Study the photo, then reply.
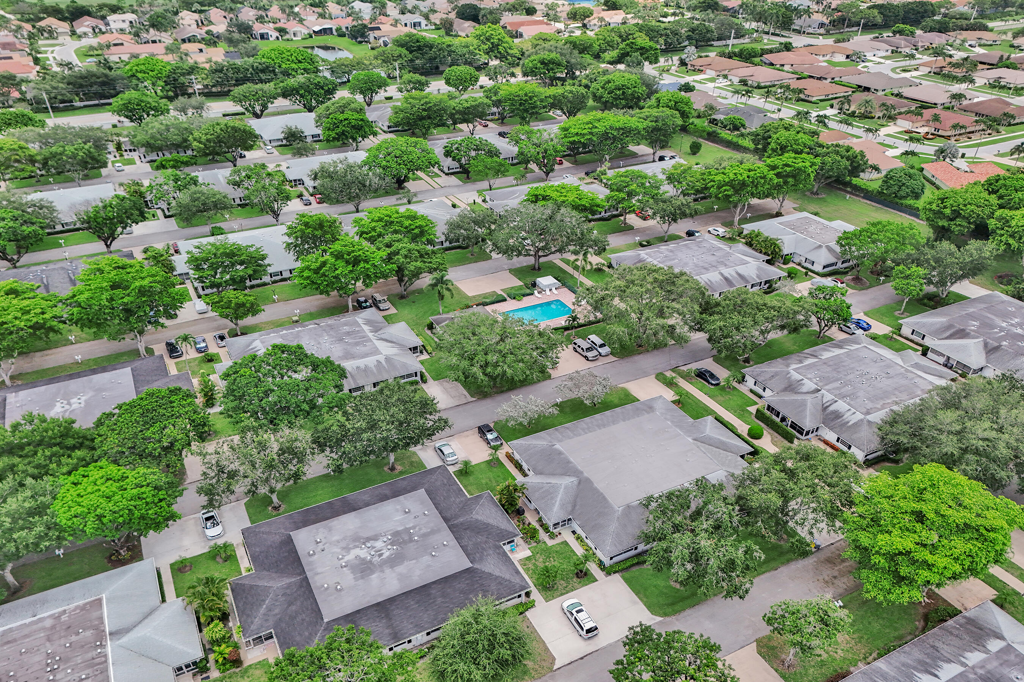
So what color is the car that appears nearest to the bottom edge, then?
white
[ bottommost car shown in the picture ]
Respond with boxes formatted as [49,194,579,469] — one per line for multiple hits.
[559,592,603,640]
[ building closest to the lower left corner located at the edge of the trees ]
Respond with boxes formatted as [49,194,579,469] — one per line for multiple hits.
[0,557,203,682]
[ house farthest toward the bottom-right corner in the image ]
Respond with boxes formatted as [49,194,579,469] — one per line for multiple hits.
[841,599,1024,682]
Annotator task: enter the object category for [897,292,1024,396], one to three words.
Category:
house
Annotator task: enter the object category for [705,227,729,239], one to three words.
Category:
vehicle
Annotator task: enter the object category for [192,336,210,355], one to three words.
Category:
car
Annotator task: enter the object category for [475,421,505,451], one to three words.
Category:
car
